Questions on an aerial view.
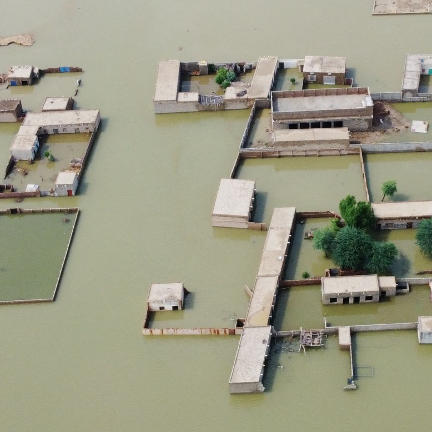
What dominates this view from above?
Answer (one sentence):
Most of the picture is covered by water.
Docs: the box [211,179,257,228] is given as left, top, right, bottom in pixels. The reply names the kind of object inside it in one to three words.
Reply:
house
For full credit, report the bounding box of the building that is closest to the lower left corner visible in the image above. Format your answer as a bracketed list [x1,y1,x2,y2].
[148,282,184,311]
